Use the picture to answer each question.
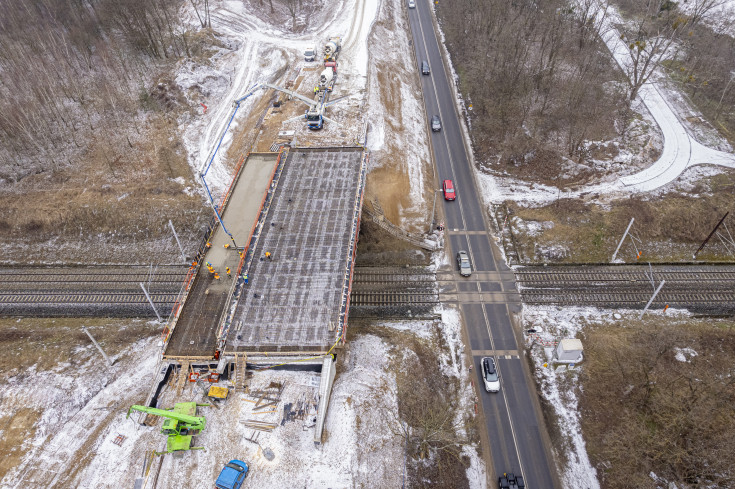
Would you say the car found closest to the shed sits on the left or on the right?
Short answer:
right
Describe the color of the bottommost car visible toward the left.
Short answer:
blue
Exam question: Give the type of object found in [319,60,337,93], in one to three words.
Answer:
vehicle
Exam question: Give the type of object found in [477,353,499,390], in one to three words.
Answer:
car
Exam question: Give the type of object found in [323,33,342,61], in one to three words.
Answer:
vehicle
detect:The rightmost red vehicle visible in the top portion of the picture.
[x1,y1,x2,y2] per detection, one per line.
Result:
[442,177,457,197]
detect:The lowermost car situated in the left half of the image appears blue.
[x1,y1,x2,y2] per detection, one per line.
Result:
[211,454,247,489]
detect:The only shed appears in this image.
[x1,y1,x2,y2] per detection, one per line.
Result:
[553,338,582,364]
